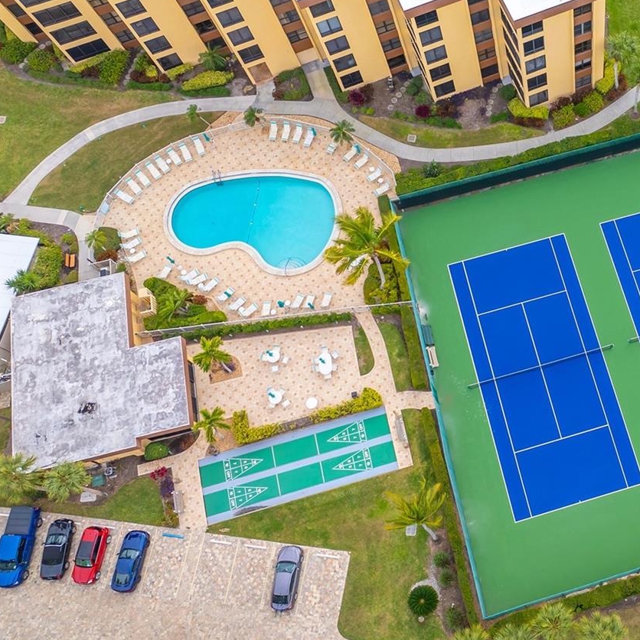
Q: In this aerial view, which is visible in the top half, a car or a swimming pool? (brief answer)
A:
swimming pool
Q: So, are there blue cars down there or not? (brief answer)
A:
Yes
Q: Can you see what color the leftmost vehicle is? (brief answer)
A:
blue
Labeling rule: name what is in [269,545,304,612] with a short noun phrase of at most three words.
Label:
car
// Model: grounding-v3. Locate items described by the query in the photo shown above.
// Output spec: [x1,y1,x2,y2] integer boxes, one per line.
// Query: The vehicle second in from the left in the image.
[38,519,78,581]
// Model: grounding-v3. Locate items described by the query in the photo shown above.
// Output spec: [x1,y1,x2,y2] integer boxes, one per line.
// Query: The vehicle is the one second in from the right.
[109,529,154,595]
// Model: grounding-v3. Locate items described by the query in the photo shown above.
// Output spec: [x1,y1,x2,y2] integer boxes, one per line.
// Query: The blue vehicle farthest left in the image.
[0,507,45,586]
